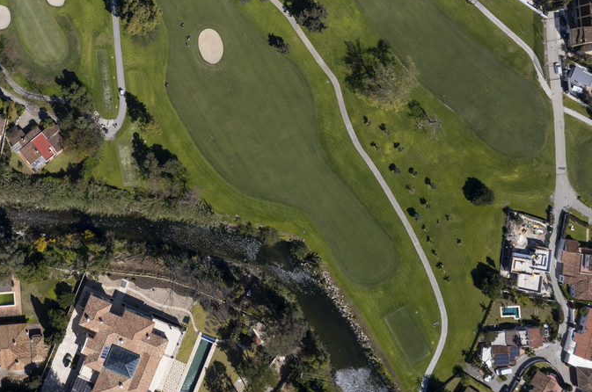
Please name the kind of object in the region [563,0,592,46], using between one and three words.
house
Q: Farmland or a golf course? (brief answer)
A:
golf course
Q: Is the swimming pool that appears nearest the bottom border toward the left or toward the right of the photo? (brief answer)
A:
left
